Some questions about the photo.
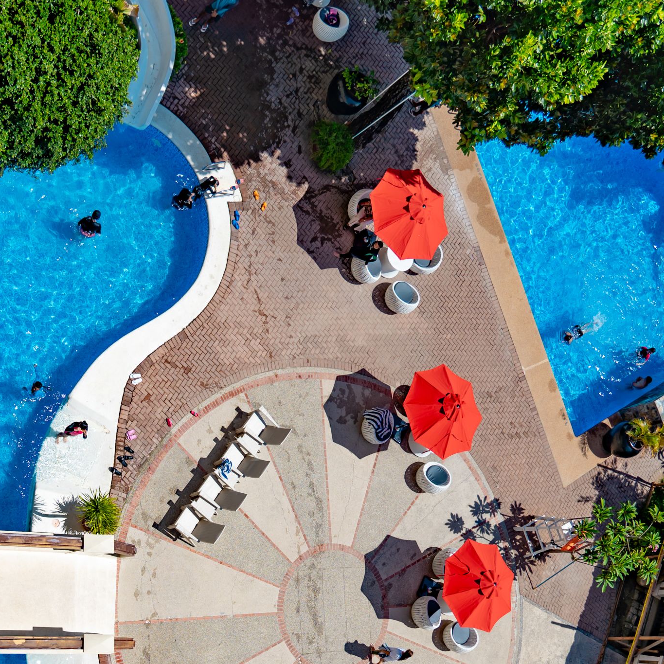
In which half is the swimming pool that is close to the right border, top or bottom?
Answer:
top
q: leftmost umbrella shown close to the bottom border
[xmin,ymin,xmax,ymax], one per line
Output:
[442,539,514,632]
